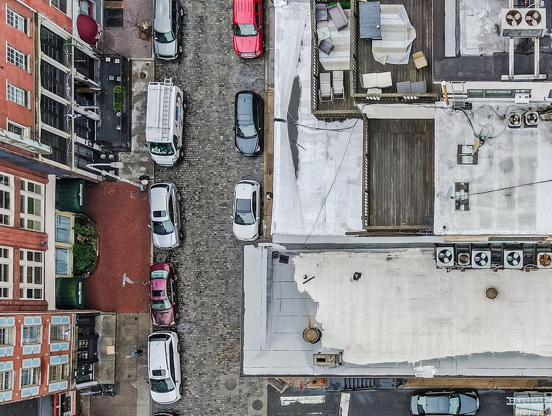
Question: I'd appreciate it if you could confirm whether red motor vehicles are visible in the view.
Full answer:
Yes, the picture does show a red motor vehicle.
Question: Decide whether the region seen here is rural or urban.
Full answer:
The land in this view is best described as urban.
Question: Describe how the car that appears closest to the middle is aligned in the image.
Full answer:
Seen from above, the car that appears closest to the middle lies from top to bottom.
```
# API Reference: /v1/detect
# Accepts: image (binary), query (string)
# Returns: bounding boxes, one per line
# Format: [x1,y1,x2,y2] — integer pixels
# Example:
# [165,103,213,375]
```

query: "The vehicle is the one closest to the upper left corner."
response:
[148,0,185,63]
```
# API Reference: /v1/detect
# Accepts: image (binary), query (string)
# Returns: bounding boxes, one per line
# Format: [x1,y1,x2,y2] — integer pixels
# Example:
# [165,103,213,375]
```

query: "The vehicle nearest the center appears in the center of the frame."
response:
[229,175,262,241]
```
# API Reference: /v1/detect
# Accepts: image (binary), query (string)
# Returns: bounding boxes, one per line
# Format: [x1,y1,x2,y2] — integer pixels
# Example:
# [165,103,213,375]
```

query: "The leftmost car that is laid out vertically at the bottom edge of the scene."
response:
[145,329,183,404]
